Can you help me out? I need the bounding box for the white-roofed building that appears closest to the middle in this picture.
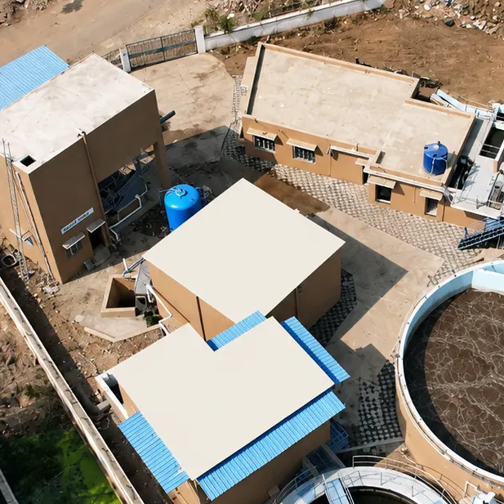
[144,179,346,348]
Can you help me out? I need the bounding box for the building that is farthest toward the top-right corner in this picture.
[240,40,471,226]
